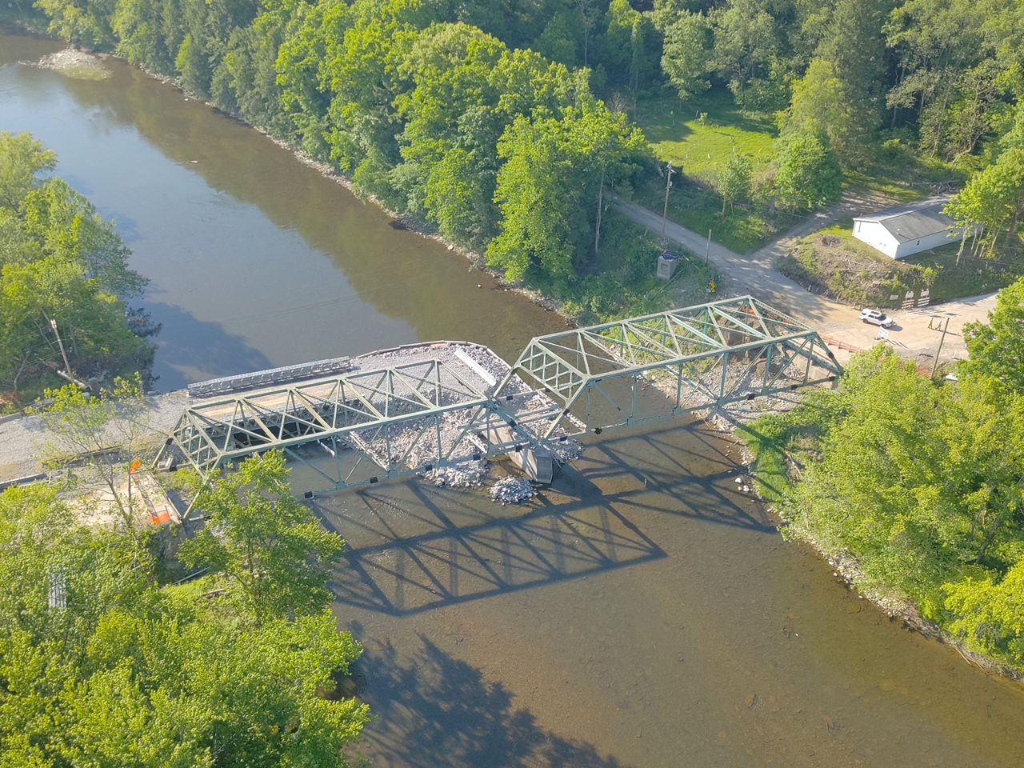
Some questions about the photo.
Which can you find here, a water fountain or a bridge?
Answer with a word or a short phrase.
bridge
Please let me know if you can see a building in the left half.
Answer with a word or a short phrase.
No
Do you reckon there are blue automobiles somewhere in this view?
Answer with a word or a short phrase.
No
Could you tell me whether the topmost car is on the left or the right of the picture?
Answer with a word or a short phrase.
right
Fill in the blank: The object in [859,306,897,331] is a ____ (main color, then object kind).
white car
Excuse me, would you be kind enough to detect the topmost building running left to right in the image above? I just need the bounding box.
[852,195,976,258]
